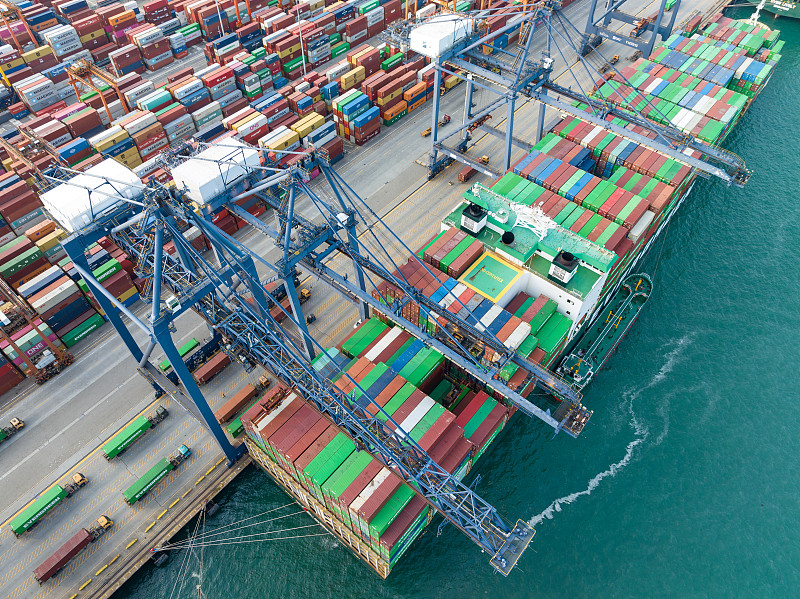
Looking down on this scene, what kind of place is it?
port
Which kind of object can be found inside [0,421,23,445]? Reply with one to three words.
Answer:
truck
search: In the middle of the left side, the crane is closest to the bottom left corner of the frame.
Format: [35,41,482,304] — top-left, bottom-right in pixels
[0,284,70,385]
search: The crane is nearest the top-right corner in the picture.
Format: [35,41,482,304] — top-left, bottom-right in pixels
[566,0,684,69]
